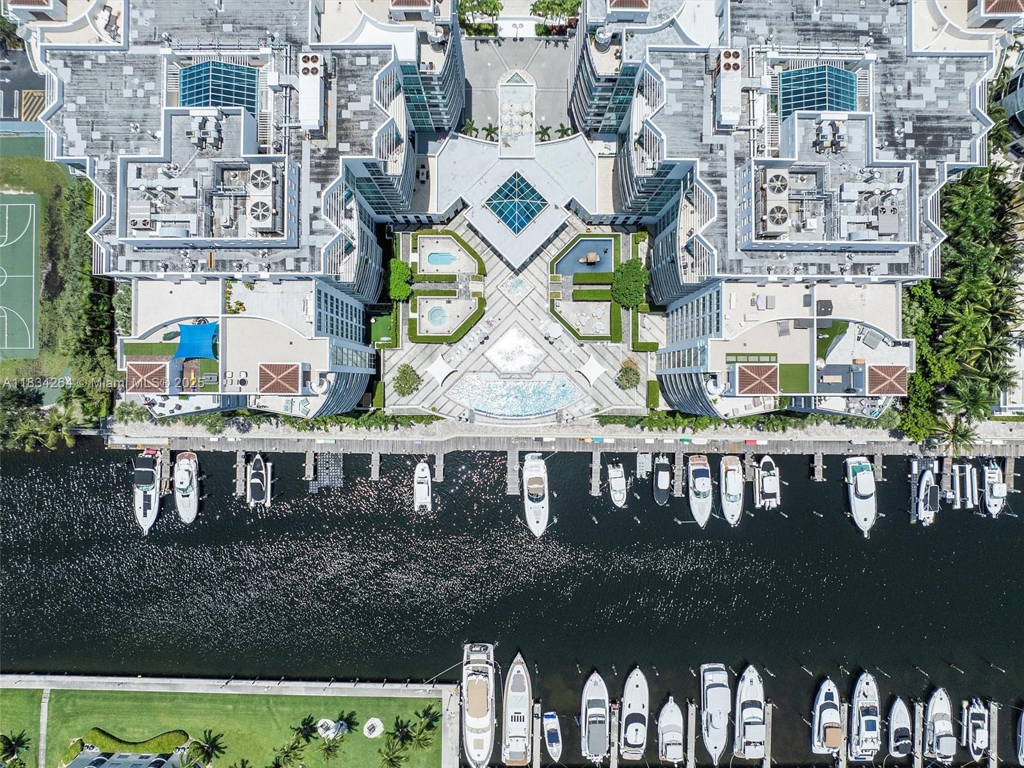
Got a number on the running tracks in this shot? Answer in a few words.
0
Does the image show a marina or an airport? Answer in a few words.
marina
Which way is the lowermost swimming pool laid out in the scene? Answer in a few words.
from side to side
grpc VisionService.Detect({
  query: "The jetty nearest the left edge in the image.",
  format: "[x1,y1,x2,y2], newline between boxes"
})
[158,450,174,494]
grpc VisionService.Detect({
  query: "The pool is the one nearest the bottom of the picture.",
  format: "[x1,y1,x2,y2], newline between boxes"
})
[442,371,590,419]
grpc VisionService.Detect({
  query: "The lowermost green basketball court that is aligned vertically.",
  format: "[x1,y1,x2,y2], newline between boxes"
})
[0,194,40,358]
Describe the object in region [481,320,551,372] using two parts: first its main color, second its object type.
white swimming pool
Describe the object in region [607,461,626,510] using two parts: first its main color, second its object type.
white boat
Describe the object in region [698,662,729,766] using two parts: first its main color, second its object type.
white boat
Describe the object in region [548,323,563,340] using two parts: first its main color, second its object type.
white umbrella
